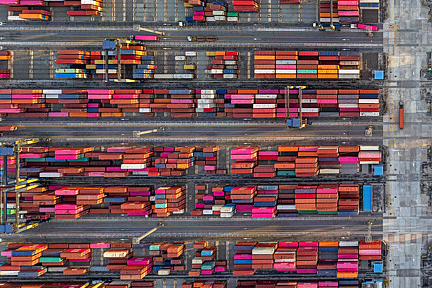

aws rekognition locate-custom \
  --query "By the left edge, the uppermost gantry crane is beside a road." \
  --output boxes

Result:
[1,137,46,187]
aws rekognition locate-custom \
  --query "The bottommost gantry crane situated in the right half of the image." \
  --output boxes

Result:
[286,83,310,127]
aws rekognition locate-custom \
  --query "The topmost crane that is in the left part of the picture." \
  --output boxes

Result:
[102,38,140,84]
